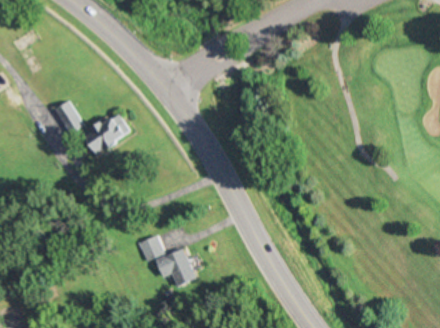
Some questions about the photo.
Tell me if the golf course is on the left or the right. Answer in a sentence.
The golf course appears in the right half of the scene.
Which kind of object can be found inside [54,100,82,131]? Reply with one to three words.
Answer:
barn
